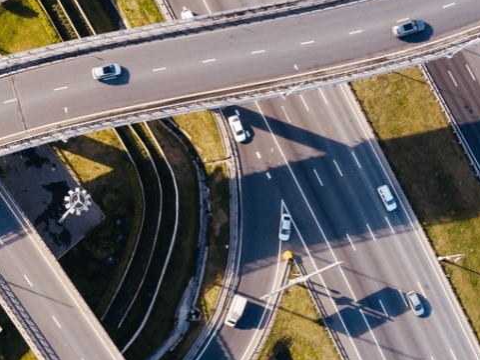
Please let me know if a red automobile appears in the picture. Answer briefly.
No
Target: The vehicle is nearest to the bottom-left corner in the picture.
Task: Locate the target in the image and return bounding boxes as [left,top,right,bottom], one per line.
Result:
[225,294,252,329]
